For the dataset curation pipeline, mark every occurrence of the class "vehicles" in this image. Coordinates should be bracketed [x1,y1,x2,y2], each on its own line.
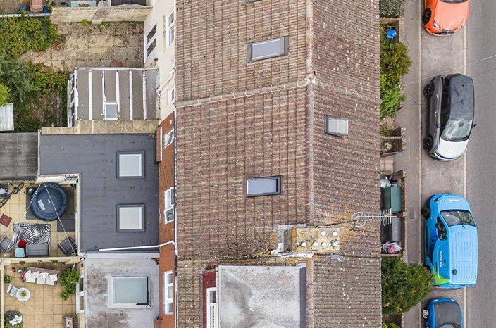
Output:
[422,70,482,164]
[423,190,488,292]
[421,0,473,36]
[418,295,467,328]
